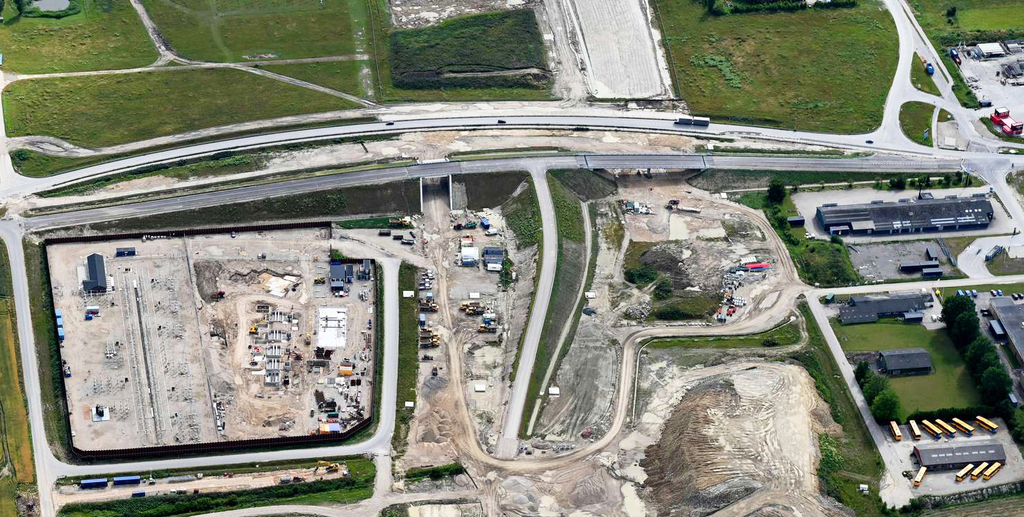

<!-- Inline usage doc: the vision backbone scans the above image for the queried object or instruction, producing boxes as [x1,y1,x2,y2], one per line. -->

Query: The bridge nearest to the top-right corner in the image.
[574,153,720,179]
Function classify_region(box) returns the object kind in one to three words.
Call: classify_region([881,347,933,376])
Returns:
barn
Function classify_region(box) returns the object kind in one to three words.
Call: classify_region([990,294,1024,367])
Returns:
building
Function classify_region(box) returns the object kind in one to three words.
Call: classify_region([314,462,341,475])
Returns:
vehicle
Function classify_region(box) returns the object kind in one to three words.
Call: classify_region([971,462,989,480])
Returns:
vehicle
